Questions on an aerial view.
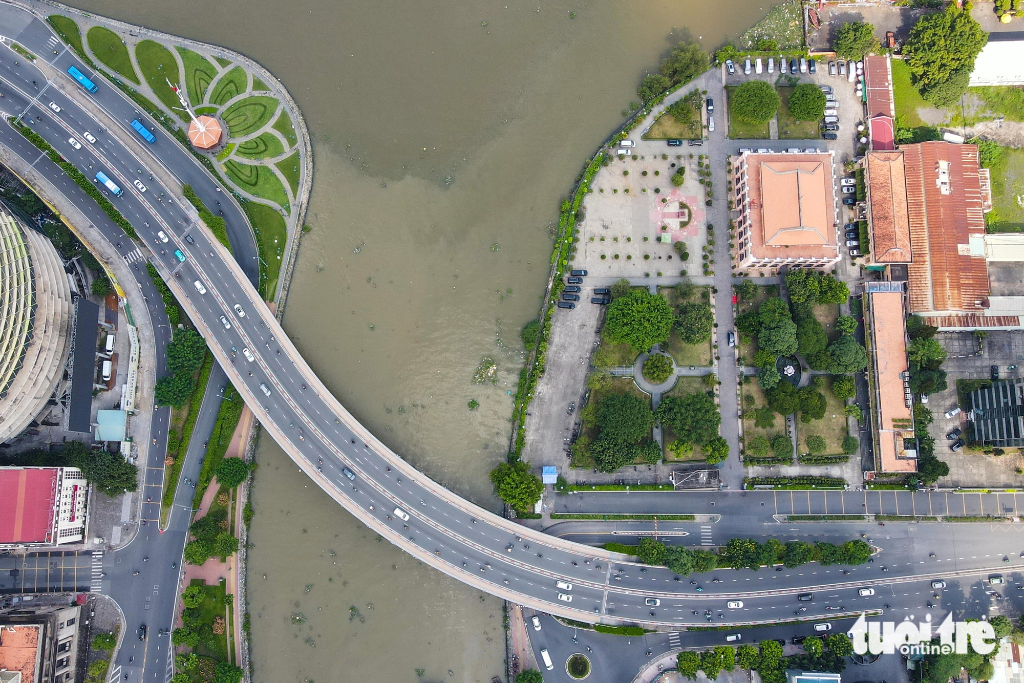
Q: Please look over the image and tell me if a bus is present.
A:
Yes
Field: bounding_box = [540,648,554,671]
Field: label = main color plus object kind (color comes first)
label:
white vehicle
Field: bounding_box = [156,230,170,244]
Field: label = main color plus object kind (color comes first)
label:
white car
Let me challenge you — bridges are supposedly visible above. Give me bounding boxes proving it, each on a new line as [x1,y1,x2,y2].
[146,218,614,629]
